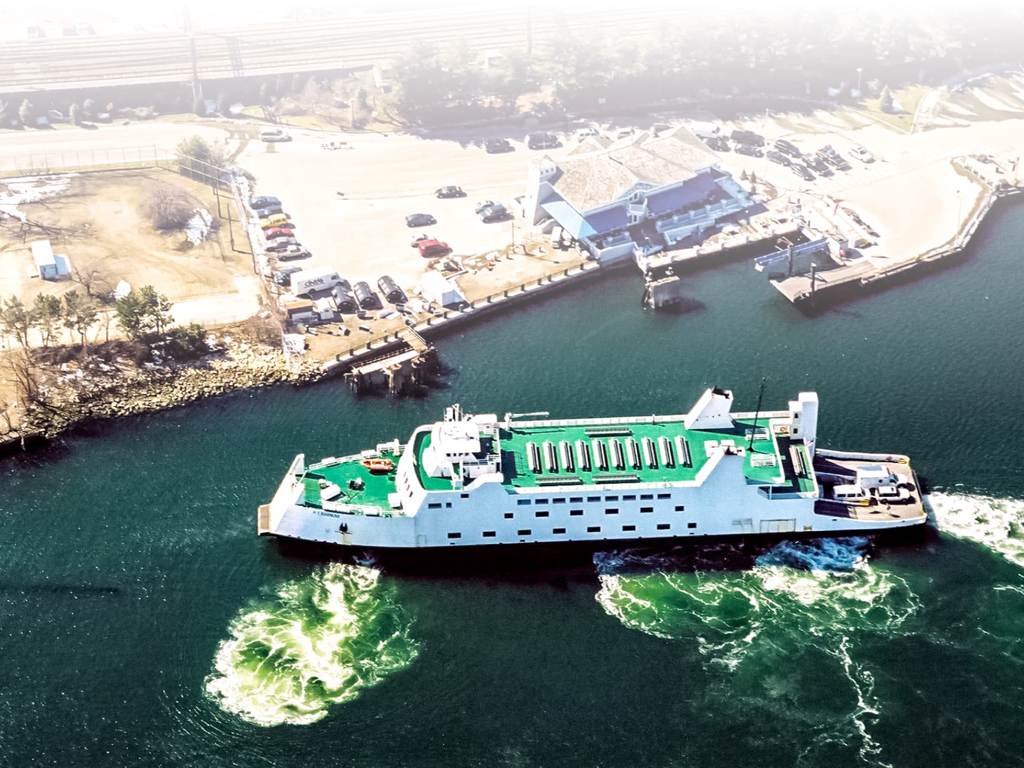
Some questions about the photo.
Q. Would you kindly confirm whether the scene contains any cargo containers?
Yes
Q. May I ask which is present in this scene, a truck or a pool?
truck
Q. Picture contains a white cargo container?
Yes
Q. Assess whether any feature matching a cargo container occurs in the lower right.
No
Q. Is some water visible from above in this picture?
Yes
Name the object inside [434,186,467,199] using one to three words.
vehicle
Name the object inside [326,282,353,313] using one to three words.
shed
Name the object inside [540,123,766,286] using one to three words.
building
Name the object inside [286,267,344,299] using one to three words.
truck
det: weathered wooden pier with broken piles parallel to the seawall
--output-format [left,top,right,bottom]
[342,330,438,389]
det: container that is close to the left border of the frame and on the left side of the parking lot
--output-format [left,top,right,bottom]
[32,239,57,279]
